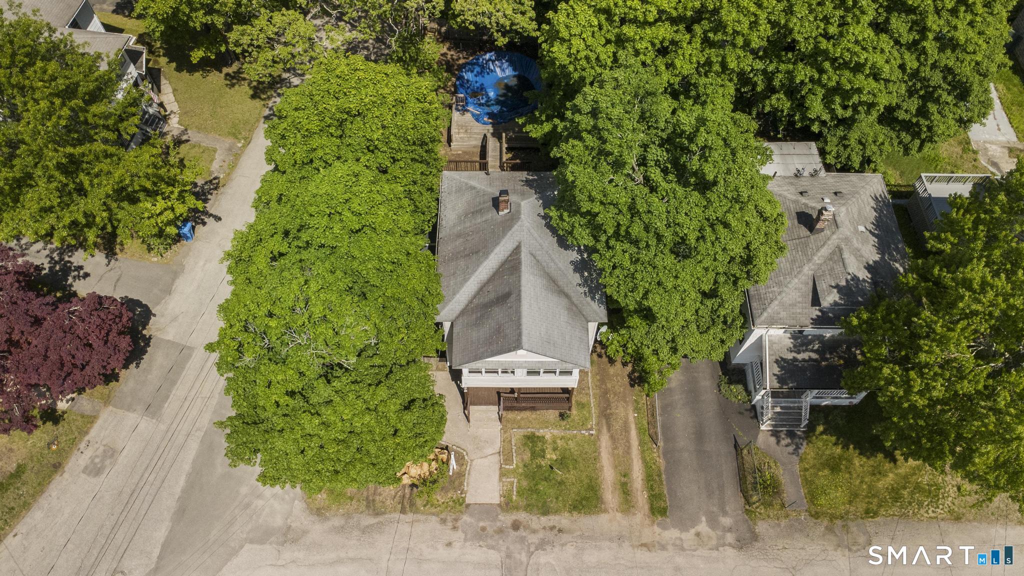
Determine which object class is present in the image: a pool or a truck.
pool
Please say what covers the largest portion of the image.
trees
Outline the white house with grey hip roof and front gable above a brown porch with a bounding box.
[434,160,609,435]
